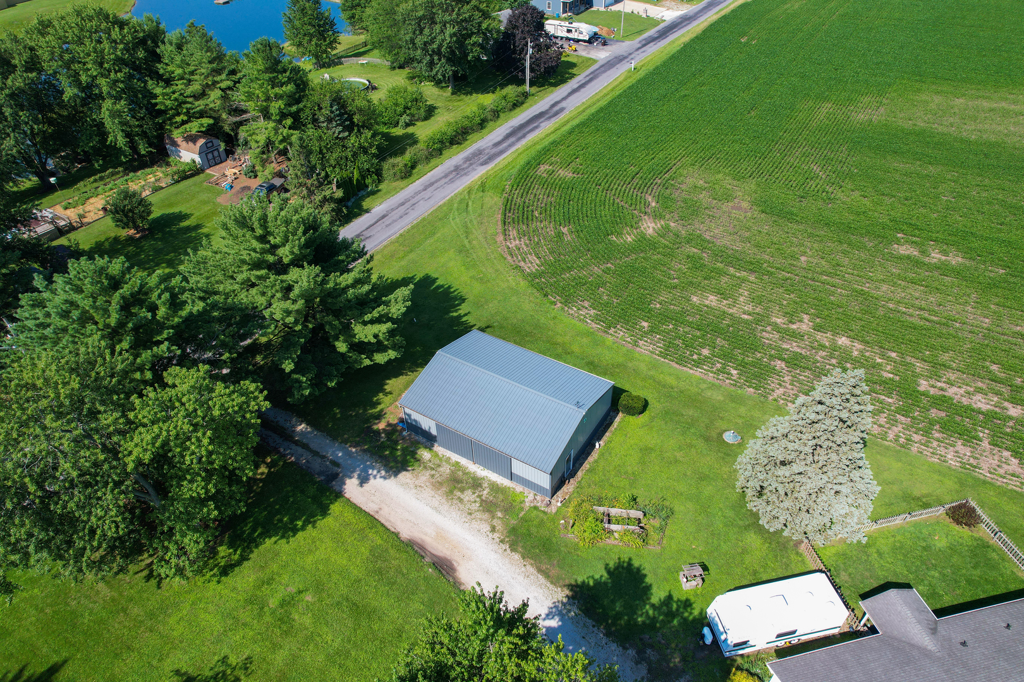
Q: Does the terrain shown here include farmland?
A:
Yes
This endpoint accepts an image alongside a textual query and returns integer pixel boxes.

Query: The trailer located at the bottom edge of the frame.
[695,570,850,655]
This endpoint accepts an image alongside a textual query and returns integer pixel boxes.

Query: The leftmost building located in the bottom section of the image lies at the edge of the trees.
[400,328,616,500]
